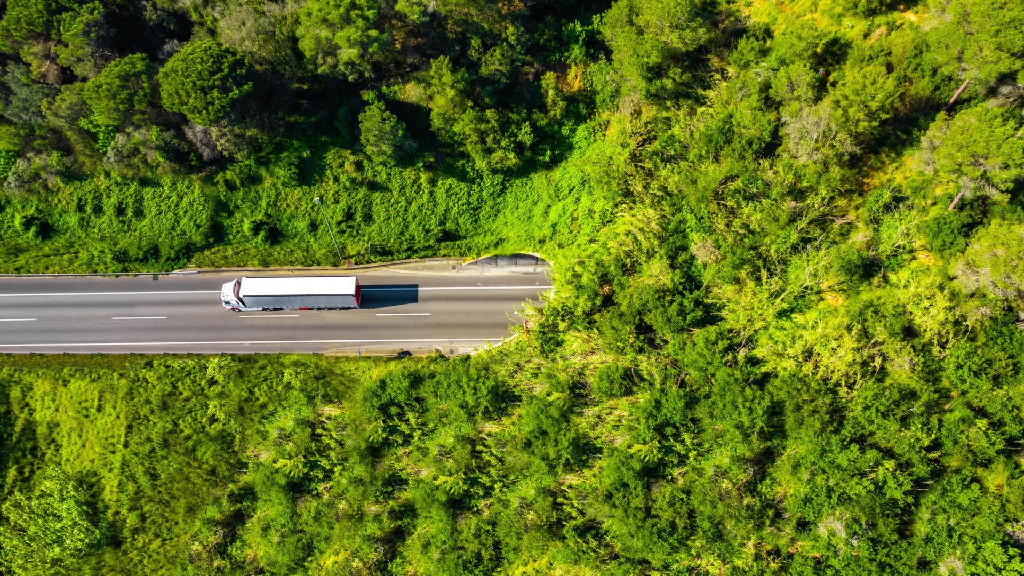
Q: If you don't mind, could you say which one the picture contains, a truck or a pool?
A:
truck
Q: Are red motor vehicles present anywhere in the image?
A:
No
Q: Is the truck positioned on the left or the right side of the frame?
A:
left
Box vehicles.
[220,276,362,311]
